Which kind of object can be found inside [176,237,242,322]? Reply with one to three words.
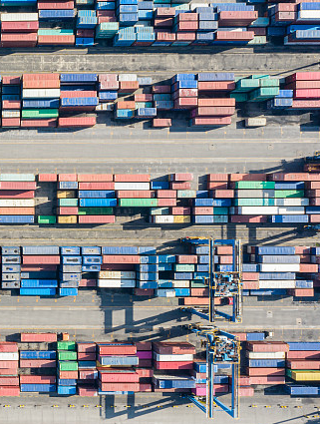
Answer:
container crane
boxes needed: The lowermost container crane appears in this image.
[177,323,244,421]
